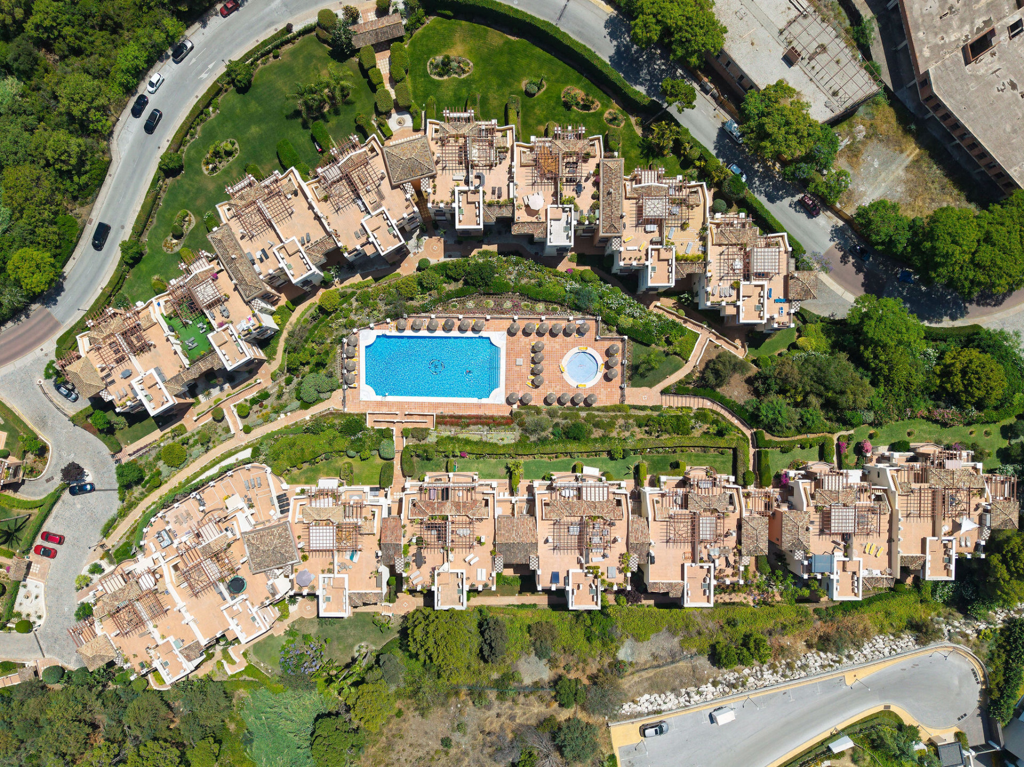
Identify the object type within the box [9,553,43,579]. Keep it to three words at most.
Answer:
building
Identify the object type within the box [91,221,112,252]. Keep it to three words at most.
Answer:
vehicle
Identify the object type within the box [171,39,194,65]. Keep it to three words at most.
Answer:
car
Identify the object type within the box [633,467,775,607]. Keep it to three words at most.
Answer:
house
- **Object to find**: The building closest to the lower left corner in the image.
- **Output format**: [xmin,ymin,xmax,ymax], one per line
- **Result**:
[18,660,45,683]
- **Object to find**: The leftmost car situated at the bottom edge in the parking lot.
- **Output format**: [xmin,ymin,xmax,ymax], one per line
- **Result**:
[639,720,669,739]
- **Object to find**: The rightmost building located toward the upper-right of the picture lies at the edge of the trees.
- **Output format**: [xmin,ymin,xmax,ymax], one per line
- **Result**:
[882,0,1024,206]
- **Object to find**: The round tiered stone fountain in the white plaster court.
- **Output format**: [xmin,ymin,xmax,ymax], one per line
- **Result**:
[392,113,408,130]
